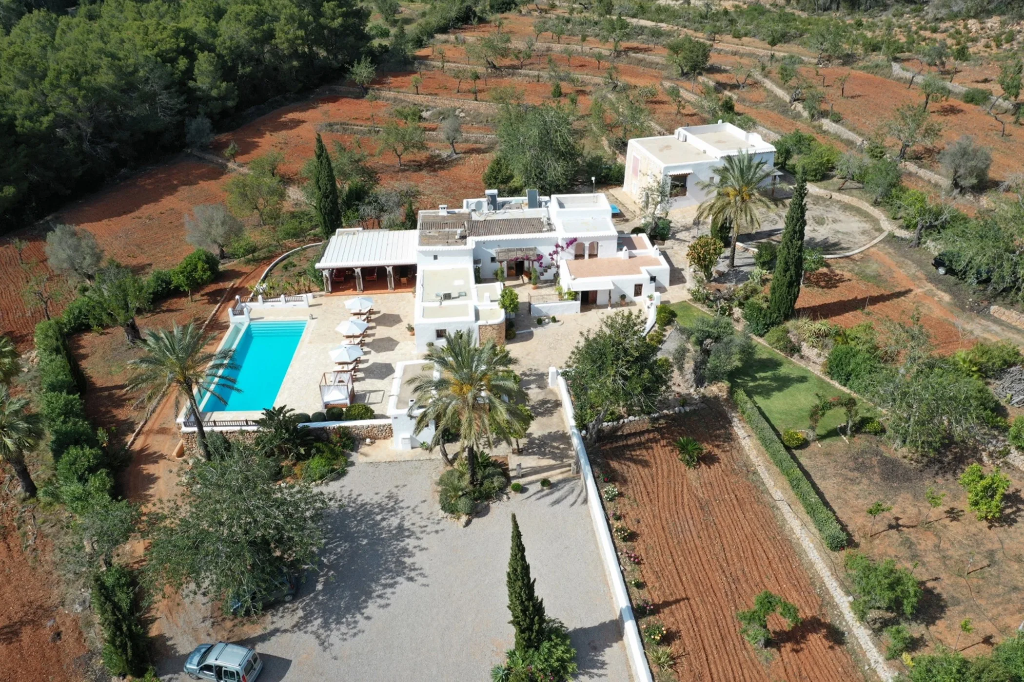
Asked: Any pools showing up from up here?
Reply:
Yes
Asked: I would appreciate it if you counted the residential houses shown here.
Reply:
two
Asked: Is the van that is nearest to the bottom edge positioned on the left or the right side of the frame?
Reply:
left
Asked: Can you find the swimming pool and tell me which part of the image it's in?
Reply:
left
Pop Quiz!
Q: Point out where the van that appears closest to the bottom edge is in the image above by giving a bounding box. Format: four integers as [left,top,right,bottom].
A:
[180,644,261,682]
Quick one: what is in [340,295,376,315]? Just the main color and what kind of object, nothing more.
white umbrella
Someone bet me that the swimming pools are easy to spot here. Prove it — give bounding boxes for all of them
[182,318,312,416]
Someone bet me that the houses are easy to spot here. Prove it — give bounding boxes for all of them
[315,179,669,353]
[626,120,784,211]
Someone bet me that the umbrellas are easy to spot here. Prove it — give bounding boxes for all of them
[324,340,364,369]
[332,315,369,339]
[340,295,376,315]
